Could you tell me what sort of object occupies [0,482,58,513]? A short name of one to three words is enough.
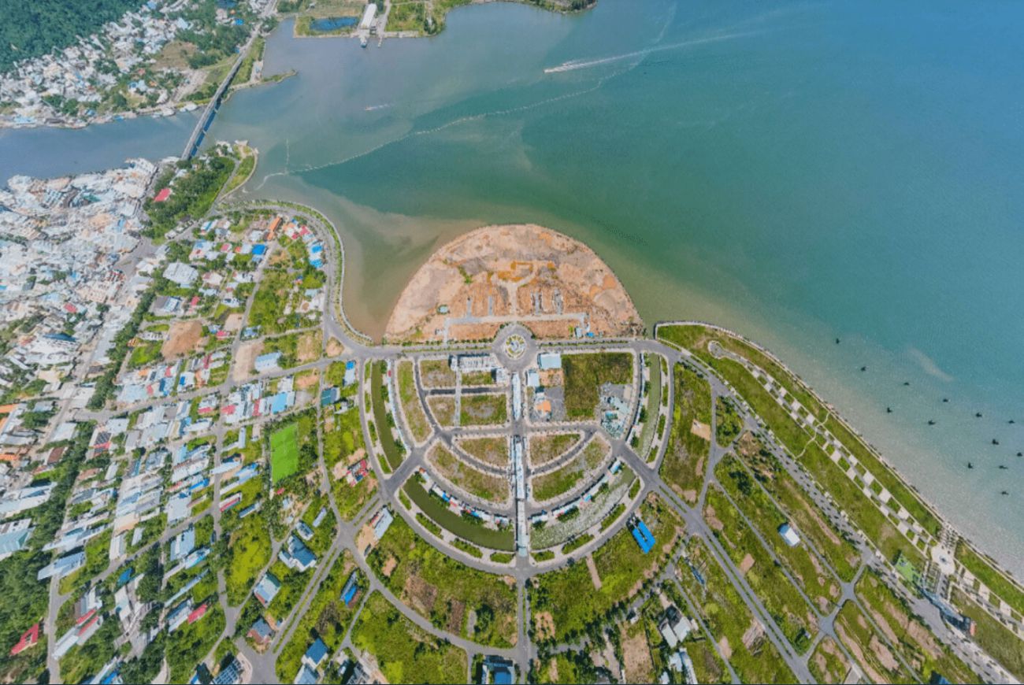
building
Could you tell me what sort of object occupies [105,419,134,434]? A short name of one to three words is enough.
house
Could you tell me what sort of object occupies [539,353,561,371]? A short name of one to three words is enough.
building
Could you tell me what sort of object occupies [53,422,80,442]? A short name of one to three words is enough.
house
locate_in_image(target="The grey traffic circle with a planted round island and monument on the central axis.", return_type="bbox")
[492,323,539,369]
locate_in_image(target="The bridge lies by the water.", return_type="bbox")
[182,29,261,164]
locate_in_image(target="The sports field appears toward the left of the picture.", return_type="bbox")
[271,424,299,482]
